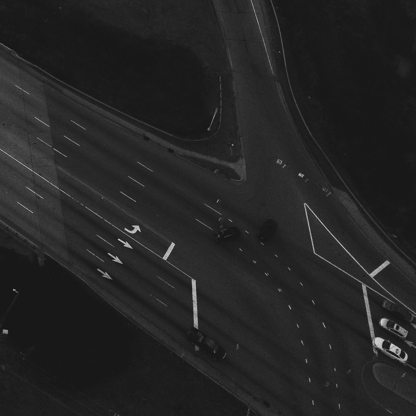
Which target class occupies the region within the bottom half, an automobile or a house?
automobile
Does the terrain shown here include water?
No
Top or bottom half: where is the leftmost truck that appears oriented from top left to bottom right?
bottom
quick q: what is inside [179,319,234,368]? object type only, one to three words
truck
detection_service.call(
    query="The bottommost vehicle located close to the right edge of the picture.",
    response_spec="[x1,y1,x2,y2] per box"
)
[371,336,409,364]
